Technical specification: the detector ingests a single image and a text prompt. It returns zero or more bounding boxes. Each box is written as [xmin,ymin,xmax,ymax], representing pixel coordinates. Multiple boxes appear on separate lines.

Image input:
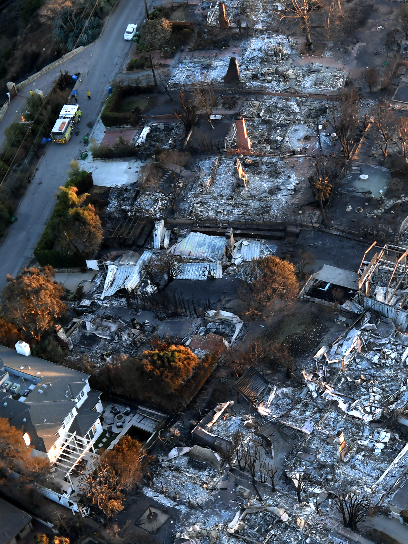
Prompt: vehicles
[51,101,79,146]
[124,23,138,40]
[69,298,101,313]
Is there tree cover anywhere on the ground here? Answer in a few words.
Yes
